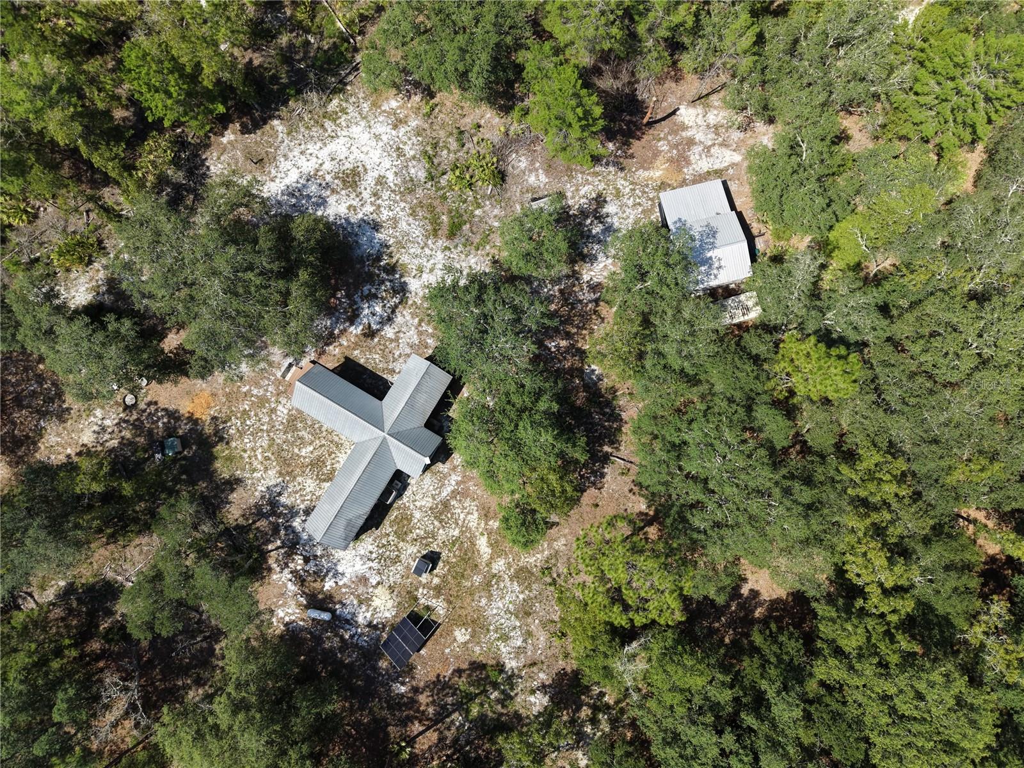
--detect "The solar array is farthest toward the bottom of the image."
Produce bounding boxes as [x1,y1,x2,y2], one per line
[380,600,453,670]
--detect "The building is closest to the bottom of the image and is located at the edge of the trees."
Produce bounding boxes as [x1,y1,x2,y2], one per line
[291,348,451,551]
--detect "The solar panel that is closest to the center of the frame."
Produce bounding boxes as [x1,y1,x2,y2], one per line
[413,556,432,576]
